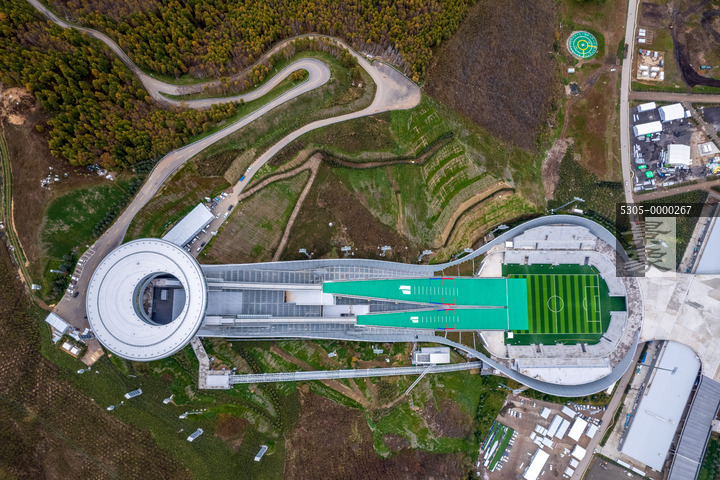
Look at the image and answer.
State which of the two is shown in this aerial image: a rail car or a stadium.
stadium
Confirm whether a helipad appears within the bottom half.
No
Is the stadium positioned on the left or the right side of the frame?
right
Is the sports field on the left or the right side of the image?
right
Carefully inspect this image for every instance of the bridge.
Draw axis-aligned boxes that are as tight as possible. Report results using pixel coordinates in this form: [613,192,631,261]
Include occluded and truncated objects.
[231,360,487,385]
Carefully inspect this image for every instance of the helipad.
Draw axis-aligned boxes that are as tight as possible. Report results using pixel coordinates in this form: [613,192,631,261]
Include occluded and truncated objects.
[568,30,598,58]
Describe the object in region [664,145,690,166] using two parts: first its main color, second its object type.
white tent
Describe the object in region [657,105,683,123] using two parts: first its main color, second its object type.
white tent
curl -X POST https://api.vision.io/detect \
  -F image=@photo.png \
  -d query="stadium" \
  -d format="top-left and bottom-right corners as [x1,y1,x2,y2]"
[502,225,628,384]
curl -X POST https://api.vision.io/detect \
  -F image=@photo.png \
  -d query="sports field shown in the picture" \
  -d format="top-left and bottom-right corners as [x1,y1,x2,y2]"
[501,264,626,345]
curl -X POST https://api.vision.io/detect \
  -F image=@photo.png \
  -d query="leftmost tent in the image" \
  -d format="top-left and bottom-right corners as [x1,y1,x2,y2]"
[523,447,548,479]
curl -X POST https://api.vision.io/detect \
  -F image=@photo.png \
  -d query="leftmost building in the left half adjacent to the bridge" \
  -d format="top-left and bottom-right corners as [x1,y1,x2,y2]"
[86,238,211,361]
